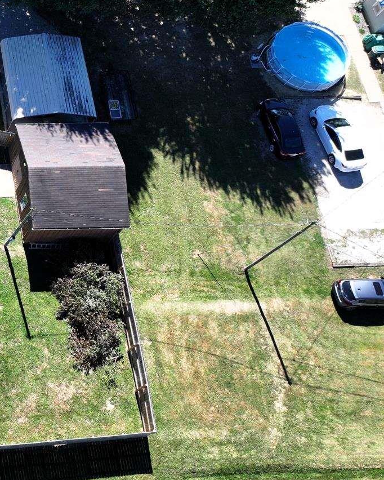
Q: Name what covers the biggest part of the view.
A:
grass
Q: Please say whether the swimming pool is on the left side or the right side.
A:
right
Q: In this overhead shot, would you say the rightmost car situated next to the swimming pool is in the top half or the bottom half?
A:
top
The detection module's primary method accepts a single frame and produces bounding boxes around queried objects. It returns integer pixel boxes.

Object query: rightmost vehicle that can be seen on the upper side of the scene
[310,105,369,179]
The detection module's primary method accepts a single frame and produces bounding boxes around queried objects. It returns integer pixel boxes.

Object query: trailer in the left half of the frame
[102,57,144,117]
